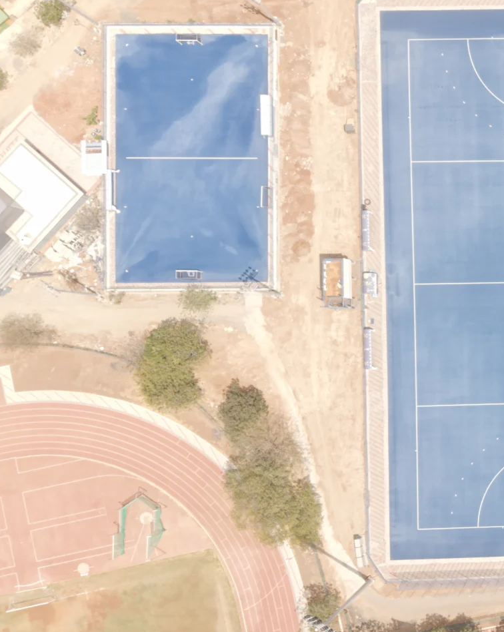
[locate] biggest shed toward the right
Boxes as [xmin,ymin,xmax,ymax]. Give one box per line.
[317,257,352,309]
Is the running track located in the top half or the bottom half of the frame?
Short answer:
bottom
